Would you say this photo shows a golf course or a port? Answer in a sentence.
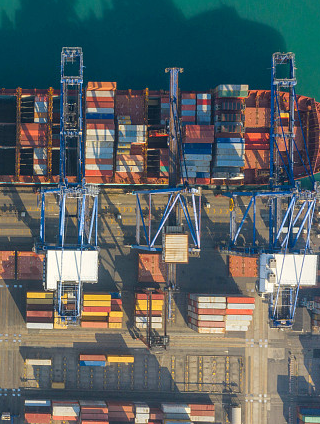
This image shows a port.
